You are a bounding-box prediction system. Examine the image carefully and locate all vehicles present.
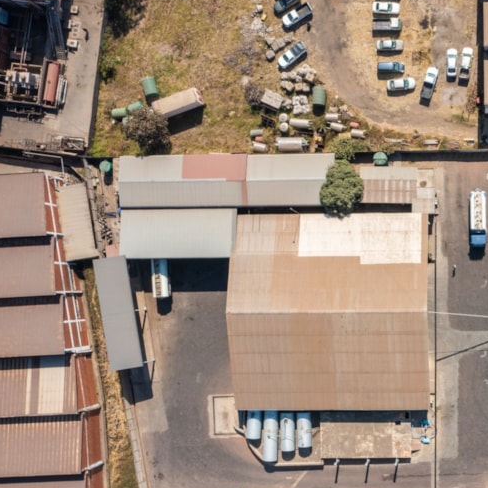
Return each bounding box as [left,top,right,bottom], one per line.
[377,40,404,54]
[458,51,471,81]
[283,4,313,29]
[445,49,458,77]
[153,259,174,299]
[372,19,402,32]
[378,60,404,75]
[274,0,303,15]
[278,41,308,69]
[386,77,416,93]
[421,70,437,102]
[468,190,488,249]
[372,2,400,16]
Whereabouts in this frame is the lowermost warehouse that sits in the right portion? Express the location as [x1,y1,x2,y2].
[226,213,428,410]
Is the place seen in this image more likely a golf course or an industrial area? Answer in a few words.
industrial area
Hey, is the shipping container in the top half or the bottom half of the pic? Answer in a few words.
top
